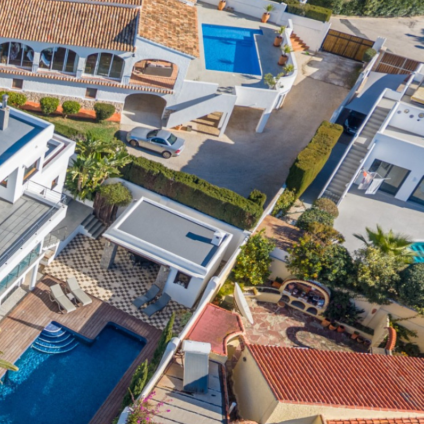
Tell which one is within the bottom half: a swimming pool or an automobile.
swimming pool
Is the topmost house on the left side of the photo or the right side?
left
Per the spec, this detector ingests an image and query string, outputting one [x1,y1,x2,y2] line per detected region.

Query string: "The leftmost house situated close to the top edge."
[0,0,203,118]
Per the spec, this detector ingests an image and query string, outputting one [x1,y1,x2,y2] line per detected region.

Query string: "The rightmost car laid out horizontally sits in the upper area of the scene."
[129,132,185,159]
